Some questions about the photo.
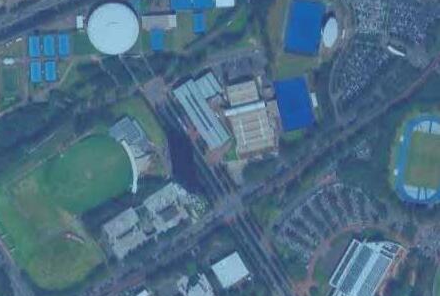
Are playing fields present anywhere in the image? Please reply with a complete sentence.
Yes, the photo shows a playing field.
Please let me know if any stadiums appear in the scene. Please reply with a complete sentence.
Yes, I can see a stadium in this picture.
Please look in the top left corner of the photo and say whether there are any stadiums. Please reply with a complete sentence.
Yes, looking in the top left corner of the photo, one can make out a stadium.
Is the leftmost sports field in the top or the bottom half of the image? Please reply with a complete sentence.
The leftmost sports field is in the bottom half of the image.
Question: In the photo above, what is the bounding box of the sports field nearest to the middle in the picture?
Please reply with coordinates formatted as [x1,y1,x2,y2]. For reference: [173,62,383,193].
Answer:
[274,77,316,131]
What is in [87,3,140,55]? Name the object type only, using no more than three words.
stadium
